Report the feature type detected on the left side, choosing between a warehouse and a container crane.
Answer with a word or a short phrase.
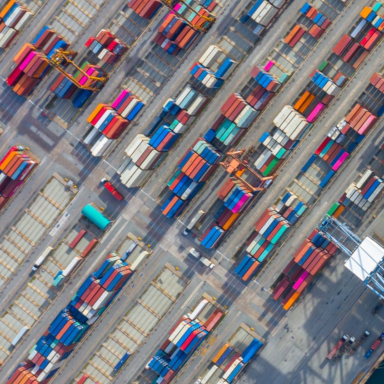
container crane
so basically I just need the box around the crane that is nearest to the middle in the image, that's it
[220,145,278,192]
